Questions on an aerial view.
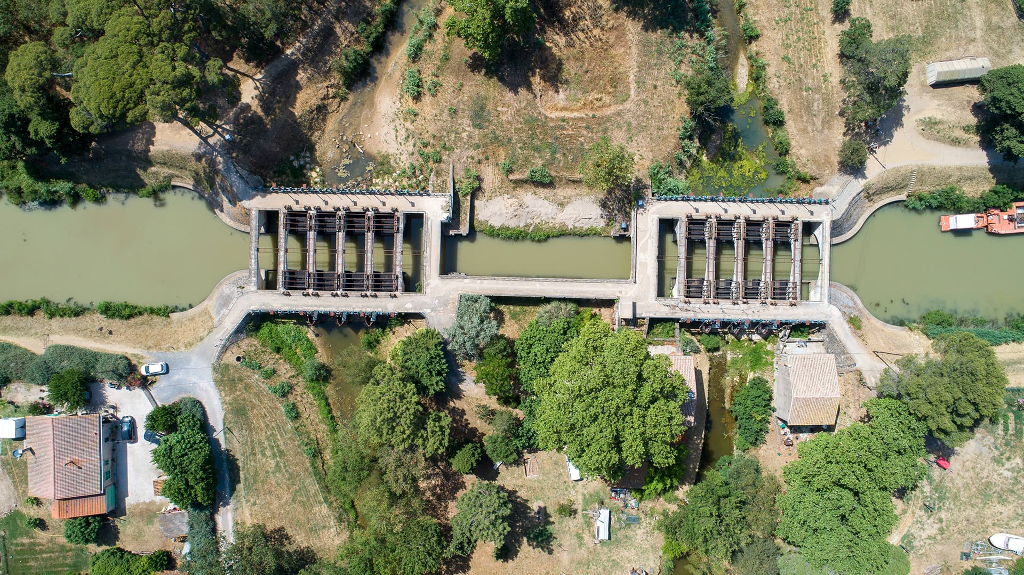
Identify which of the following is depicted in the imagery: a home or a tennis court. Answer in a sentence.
Of the two, only a home appears.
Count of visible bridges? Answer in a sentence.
I count 2 bridges.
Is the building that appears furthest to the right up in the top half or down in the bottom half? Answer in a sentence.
The building that appears furthest to the right sits in the top half of the picture.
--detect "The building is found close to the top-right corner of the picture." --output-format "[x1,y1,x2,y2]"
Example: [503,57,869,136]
[924,57,993,85]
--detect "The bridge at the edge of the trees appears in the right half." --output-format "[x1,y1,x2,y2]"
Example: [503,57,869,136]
[635,194,835,337]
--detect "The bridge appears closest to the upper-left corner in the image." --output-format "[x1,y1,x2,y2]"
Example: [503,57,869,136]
[245,186,455,328]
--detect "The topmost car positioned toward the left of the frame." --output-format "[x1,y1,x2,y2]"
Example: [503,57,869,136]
[140,362,166,375]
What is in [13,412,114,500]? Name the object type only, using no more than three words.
house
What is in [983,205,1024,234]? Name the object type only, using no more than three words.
ship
